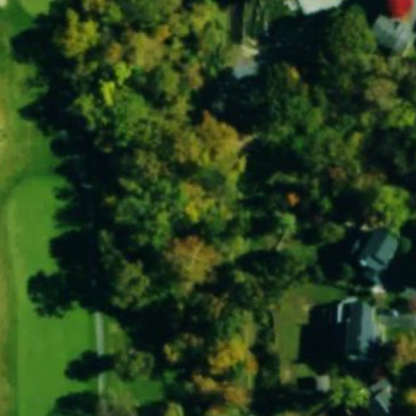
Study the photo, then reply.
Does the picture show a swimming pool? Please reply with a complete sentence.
No, the scene contains no swimming pool.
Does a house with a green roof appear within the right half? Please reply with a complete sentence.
Yes, within the right half there is a house with a green roof.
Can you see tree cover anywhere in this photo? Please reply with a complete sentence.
Yes, there's tree cover in this view.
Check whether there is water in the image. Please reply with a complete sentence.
No, the picture contains no water.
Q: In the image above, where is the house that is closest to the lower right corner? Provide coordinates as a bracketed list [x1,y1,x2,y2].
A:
[362,384,403,416]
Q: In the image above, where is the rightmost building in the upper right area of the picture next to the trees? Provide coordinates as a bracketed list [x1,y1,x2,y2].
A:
[373,12,416,55]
